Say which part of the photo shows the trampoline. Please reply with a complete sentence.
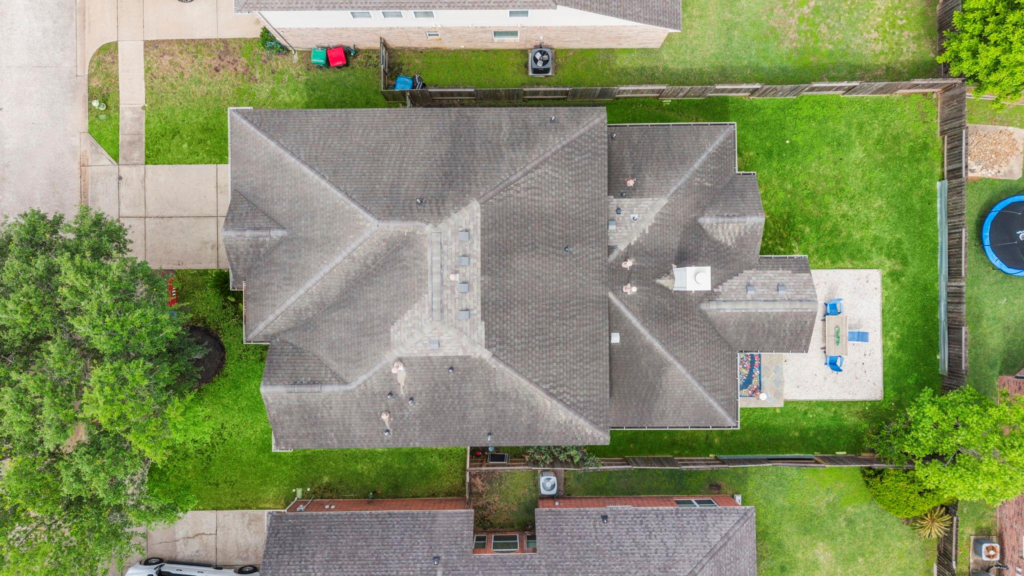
The trampoline sits in the right section of the image.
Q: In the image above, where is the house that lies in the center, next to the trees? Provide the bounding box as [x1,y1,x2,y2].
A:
[222,104,819,453]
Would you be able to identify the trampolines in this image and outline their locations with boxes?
[964,192,1024,280]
